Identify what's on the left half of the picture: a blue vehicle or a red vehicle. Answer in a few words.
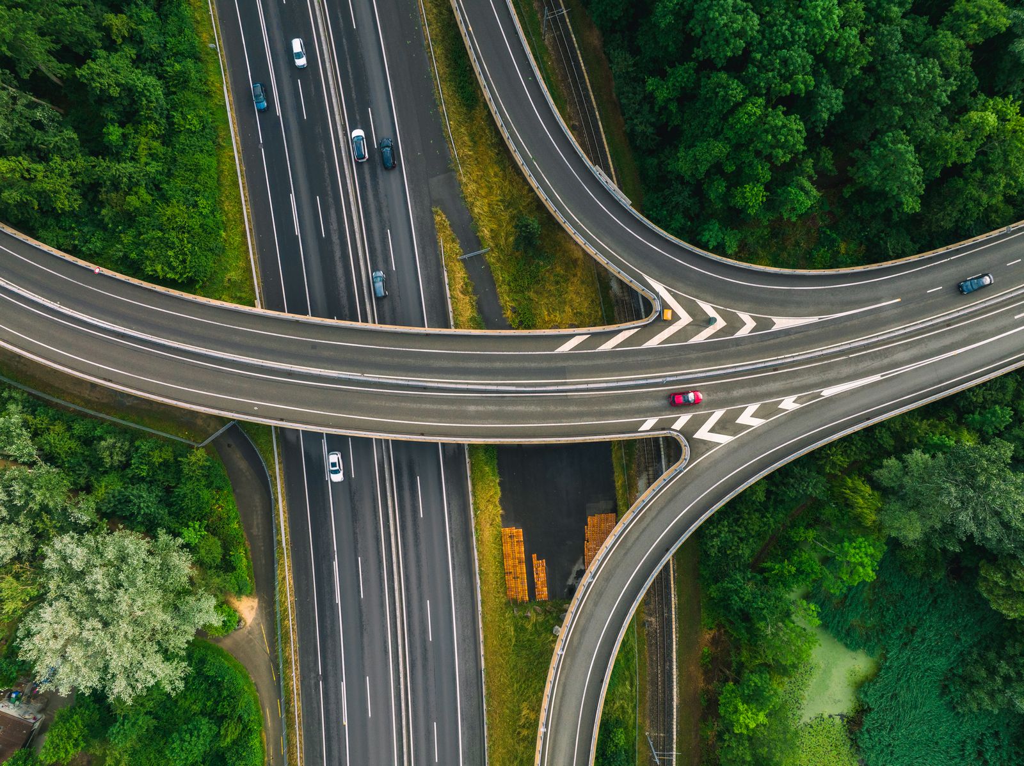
blue vehicle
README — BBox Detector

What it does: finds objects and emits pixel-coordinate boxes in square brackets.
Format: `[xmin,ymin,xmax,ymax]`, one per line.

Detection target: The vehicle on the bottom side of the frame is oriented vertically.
[329,452,344,482]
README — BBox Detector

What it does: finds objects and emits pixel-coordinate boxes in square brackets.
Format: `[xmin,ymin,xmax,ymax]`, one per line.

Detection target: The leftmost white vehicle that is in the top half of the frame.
[291,38,308,68]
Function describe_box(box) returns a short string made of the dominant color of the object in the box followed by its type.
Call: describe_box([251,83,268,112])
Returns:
blue car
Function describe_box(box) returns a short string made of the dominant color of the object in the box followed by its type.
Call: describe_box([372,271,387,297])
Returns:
blue car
